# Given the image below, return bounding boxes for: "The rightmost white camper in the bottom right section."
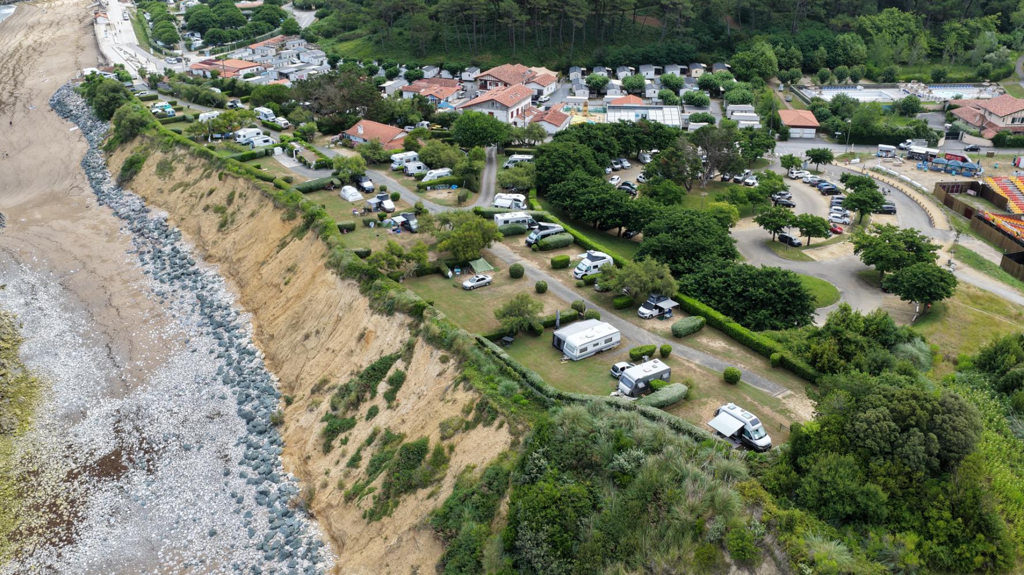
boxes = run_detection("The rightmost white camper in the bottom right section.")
[706,398,783,462]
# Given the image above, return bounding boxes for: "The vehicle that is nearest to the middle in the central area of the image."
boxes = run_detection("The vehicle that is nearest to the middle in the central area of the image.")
[461,276,494,291]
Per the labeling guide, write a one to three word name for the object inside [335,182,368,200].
tent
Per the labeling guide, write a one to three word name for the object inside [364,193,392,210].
camper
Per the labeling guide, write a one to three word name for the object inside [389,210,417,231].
camper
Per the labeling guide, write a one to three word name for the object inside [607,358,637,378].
car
